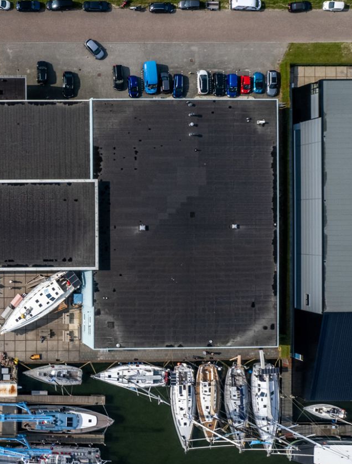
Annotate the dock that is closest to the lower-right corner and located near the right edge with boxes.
[281,421,352,439]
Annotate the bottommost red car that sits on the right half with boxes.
[239,74,251,94]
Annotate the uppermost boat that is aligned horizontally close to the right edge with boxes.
[303,404,352,424]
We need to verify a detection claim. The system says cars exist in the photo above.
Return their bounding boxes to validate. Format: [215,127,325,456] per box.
[239,74,251,94]
[265,71,279,95]
[46,0,73,11]
[170,73,183,97]
[17,0,40,12]
[82,0,110,12]
[196,71,210,95]
[158,72,170,93]
[127,75,139,96]
[112,64,125,91]
[177,0,199,10]
[322,0,344,11]
[84,38,105,61]
[62,72,74,97]
[0,0,10,11]
[287,0,310,13]
[252,72,265,93]
[213,73,226,97]
[148,1,174,14]
[35,61,48,84]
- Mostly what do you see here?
buildings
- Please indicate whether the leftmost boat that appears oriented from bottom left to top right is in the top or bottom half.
bottom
